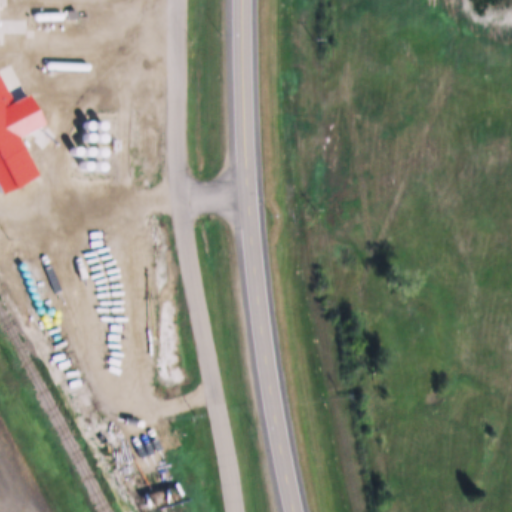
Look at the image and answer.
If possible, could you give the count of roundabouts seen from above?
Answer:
0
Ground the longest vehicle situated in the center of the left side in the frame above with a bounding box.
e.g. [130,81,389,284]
[40,252,61,298]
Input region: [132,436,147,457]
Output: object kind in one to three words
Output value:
vehicle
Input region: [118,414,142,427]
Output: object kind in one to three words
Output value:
vehicle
